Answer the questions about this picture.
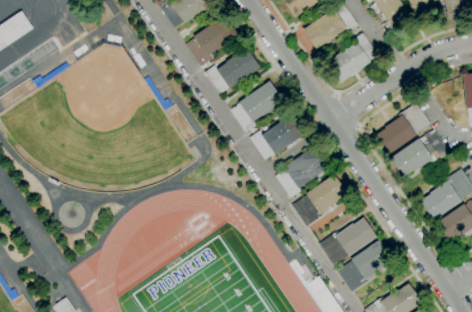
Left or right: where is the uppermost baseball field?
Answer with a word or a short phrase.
left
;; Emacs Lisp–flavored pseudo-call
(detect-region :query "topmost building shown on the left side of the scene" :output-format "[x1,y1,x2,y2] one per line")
[166,0,208,28]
